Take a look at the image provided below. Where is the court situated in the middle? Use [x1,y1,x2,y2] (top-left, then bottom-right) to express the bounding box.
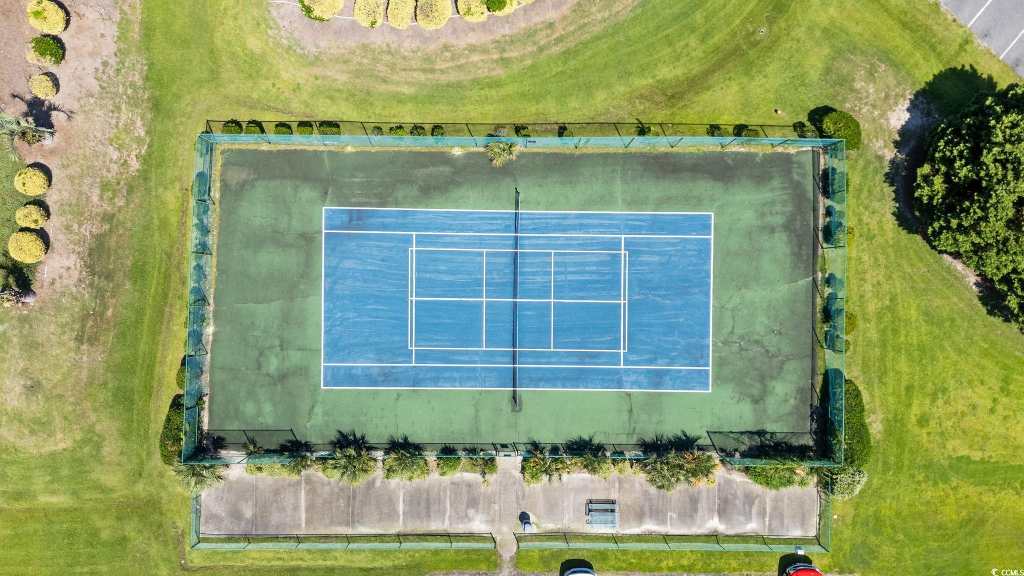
[206,148,819,453]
